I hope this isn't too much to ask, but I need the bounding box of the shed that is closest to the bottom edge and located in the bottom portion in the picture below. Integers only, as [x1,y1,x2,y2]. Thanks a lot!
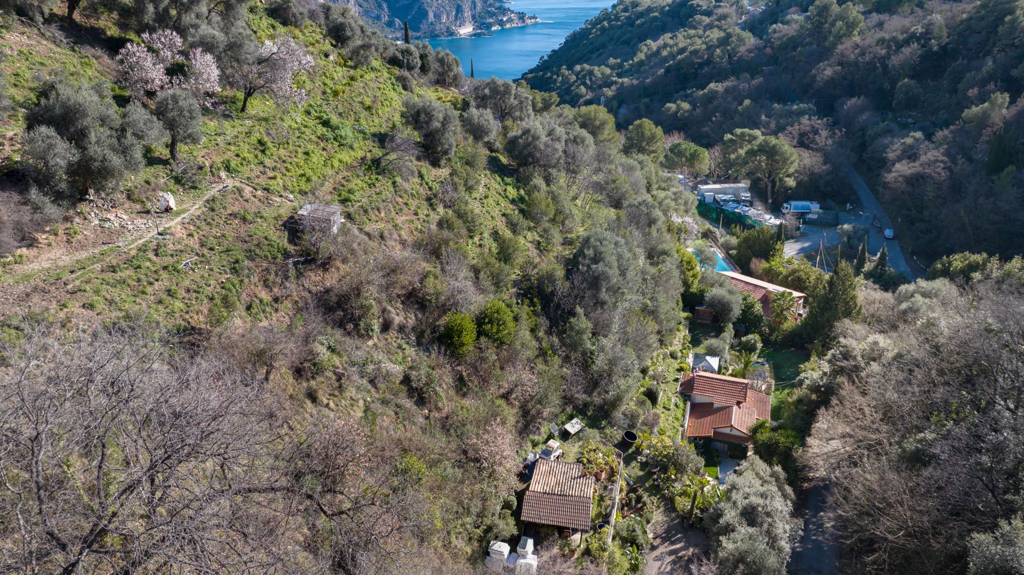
[517,459,594,549]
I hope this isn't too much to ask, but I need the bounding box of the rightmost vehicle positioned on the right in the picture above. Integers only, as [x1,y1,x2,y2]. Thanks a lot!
[883,227,898,242]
